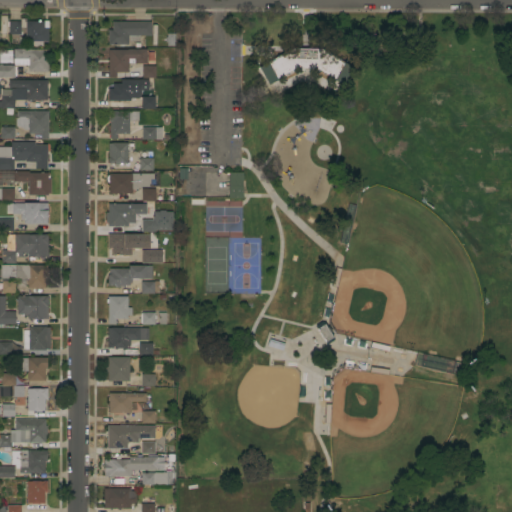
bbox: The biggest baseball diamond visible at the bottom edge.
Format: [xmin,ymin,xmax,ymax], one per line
[332,370,464,499]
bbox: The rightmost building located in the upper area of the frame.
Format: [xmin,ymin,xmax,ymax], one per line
[260,48,350,84]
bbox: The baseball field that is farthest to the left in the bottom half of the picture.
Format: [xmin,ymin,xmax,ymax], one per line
[239,366,302,428]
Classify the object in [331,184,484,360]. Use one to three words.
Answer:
baseball field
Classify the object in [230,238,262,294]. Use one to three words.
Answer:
basketball court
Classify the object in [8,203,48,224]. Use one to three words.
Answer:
house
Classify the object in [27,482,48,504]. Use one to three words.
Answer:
house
